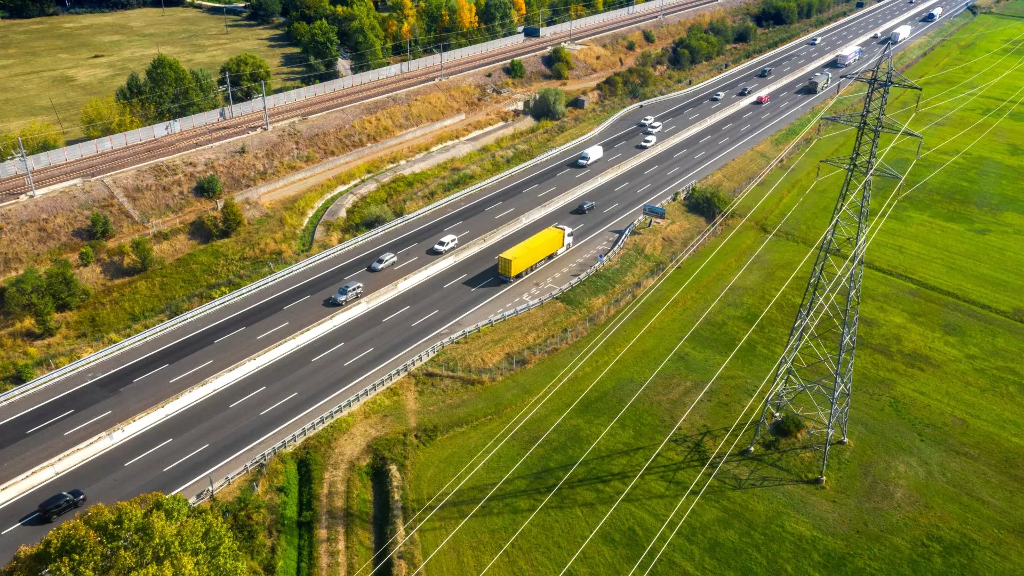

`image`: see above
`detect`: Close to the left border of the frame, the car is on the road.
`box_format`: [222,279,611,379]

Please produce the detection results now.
[29,486,91,526]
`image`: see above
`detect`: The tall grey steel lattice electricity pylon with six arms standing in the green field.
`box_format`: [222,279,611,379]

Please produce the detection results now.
[744,41,925,487]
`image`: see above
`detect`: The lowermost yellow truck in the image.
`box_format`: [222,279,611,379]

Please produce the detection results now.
[498,226,574,281]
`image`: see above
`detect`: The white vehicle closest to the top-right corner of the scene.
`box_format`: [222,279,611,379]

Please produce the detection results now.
[925,3,946,20]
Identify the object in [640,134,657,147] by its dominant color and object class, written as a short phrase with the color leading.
white vehicle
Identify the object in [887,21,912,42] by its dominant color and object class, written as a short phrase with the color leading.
white truck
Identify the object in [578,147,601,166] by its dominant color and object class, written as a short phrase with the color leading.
white vehicle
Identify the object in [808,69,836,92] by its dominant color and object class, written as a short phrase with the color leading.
gray truck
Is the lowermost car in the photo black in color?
Yes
